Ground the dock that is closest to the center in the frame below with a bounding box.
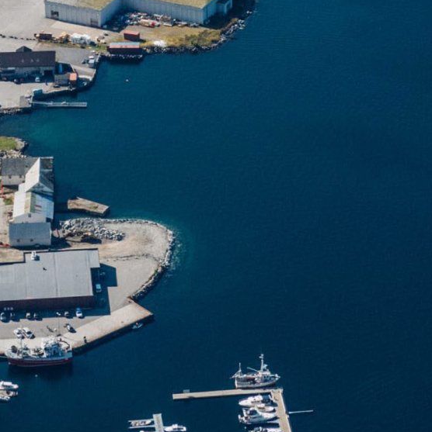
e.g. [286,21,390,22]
[68,198,109,217]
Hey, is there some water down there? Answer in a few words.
Yes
